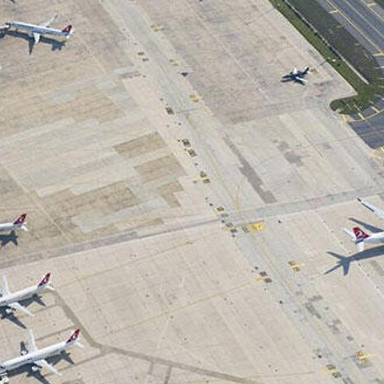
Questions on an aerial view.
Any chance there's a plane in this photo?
Yes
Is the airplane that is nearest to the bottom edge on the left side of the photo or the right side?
left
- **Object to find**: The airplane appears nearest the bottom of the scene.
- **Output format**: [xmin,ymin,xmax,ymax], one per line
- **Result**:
[0,330,84,376]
